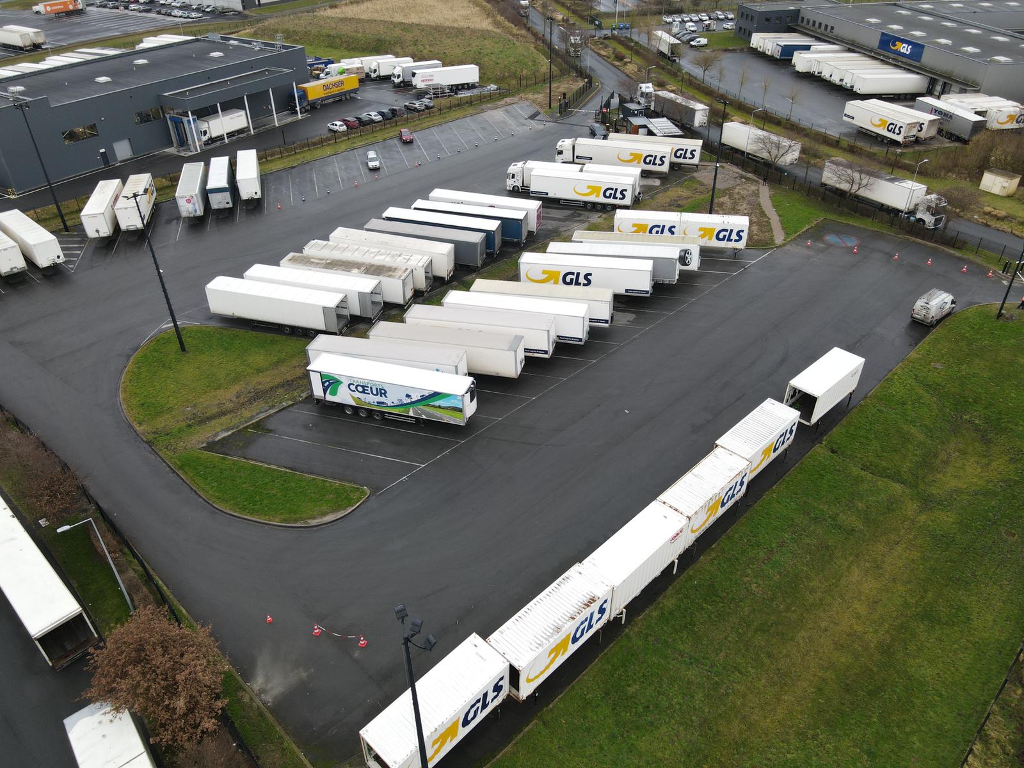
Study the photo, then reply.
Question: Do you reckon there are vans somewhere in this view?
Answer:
Yes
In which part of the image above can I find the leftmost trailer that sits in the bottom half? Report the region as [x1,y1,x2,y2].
[0,497,100,675]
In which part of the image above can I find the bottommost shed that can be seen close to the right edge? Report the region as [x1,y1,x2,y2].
[980,161,1024,196]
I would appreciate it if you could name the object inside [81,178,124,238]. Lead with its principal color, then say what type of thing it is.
white trailer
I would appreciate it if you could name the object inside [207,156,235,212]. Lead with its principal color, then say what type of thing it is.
white trailer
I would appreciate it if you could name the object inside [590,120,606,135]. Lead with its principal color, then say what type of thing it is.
gray car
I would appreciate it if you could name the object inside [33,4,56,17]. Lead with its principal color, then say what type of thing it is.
white vehicle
